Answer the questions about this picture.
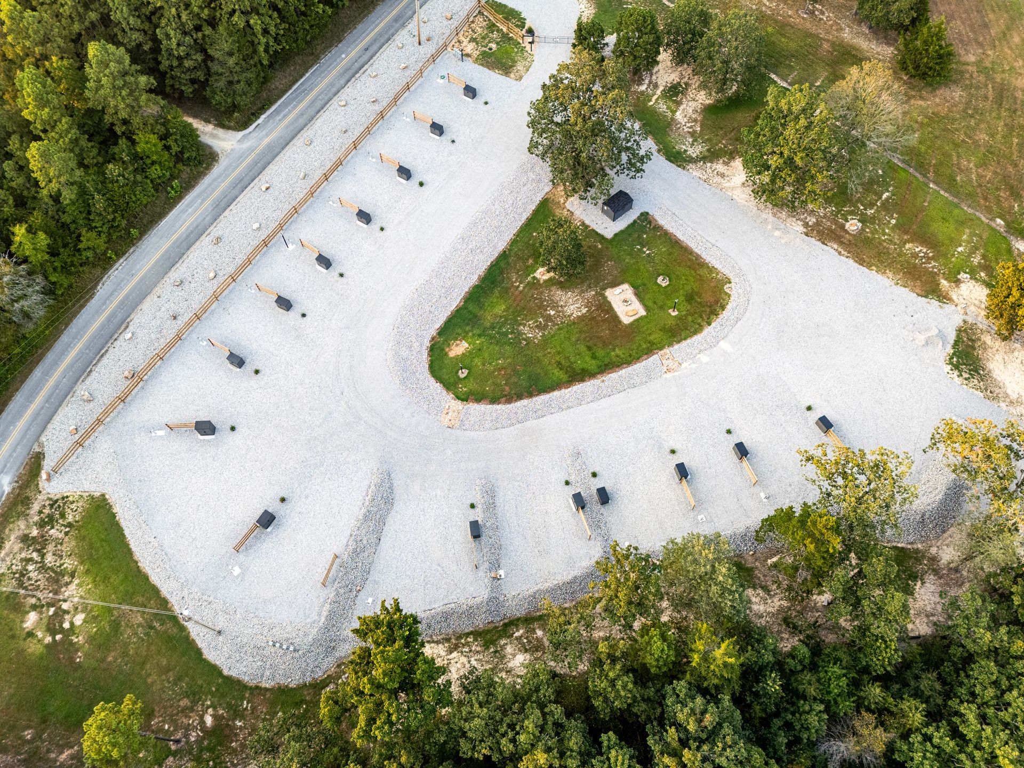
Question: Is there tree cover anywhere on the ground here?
Yes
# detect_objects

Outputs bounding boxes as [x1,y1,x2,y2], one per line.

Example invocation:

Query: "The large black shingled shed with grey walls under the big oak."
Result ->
[603,190,634,221]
